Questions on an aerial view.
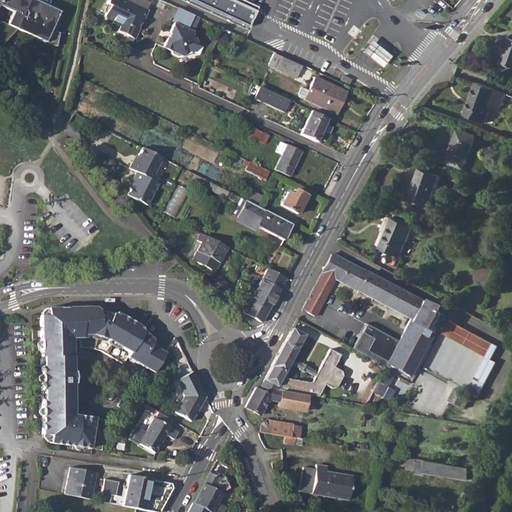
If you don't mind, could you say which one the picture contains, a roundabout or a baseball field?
roundabout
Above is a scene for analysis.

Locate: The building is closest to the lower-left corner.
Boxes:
[63,466,99,500]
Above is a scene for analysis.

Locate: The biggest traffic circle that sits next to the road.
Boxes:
[197,328,266,394]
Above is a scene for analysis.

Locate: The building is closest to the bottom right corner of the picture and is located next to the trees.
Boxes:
[403,459,467,481]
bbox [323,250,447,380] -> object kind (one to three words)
building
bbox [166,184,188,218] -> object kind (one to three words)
greenhouse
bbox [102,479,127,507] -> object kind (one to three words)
shed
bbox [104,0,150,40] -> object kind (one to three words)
house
